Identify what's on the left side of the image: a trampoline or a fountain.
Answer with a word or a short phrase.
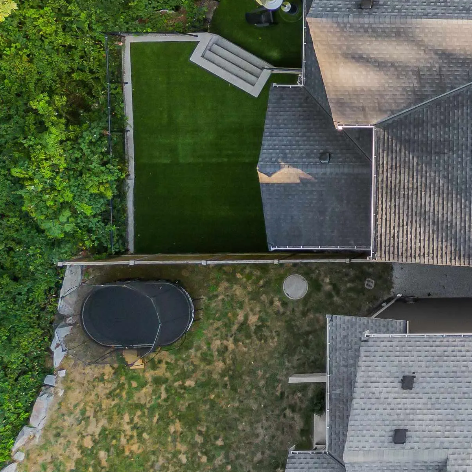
trampoline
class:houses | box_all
[256,0,472,266]
[284,281,472,472]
